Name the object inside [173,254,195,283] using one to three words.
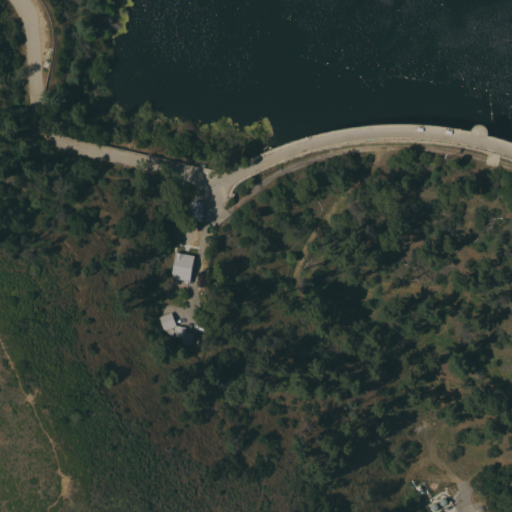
house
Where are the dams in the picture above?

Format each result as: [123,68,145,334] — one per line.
[234,124,512,184]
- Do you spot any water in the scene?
Yes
